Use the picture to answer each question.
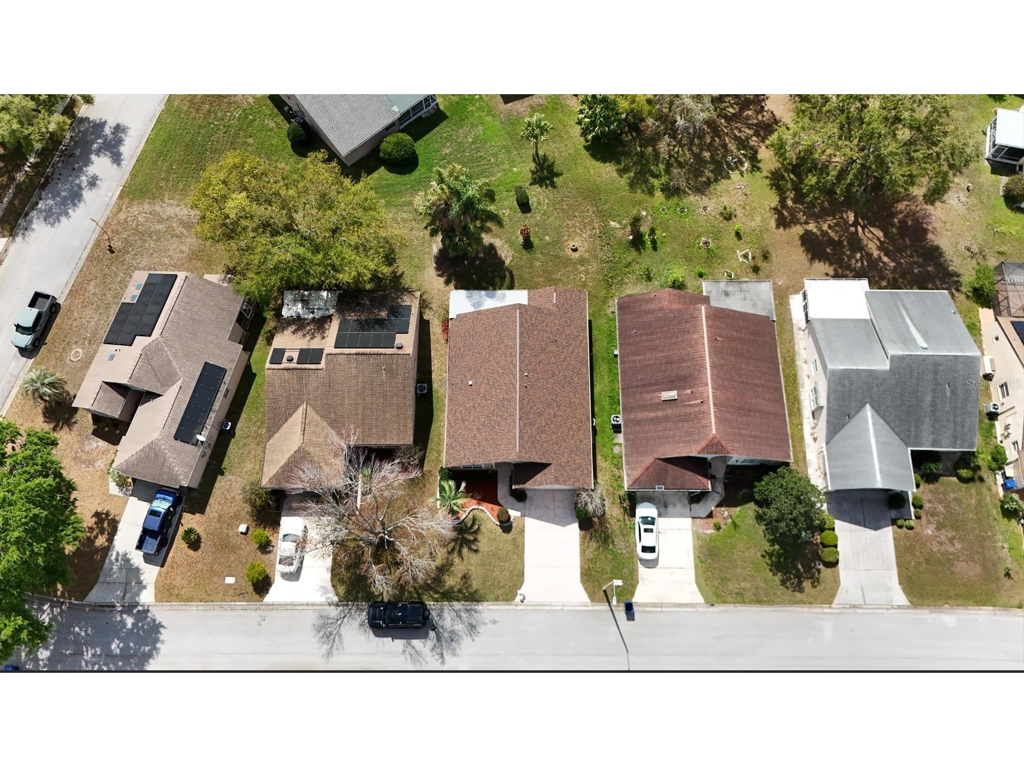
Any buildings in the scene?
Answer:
Yes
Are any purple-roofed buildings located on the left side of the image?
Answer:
No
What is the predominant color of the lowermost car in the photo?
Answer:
black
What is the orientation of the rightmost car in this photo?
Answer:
vertically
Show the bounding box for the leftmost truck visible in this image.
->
[18,293,65,354]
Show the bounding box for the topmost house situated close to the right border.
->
[984,81,1024,172]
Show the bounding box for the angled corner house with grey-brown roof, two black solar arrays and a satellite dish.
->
[73,271,255,488]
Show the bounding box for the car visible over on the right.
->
[635,504,661,563]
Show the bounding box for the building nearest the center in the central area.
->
[445,285,593,490]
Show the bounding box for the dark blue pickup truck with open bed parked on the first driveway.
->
[135,488,183,563]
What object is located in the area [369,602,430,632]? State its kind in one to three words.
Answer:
car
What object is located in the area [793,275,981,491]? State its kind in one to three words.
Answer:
house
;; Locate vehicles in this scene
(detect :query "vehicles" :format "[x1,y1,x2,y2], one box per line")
[18,293,65,354]
[135,488,183,563]
[278,516,306,577]
[369,602,430,632]
[635,504,661,563]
